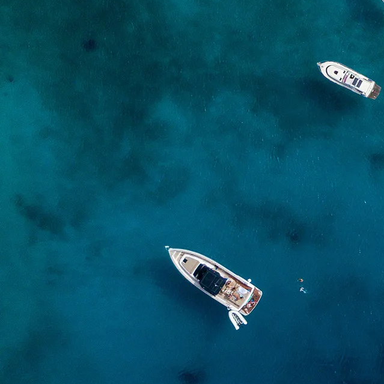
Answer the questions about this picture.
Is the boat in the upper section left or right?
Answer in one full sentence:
The boat in the upper section appears in the right half of the scene.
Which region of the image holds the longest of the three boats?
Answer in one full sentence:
Look in the bottom portion of the view to spot the longest of the three boats.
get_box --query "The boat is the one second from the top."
[166,247,262,315]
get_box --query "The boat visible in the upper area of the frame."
[316,61,381,99]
